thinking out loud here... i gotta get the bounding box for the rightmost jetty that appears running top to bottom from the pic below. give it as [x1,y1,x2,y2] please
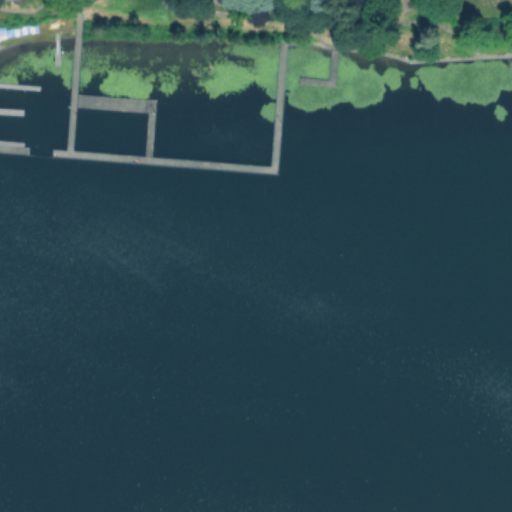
[272,42,288,166]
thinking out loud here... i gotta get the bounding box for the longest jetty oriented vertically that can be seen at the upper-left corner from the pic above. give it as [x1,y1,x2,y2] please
[68,12,84,150]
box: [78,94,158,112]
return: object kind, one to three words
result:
pier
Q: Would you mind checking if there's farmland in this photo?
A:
No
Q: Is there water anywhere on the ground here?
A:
Yes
